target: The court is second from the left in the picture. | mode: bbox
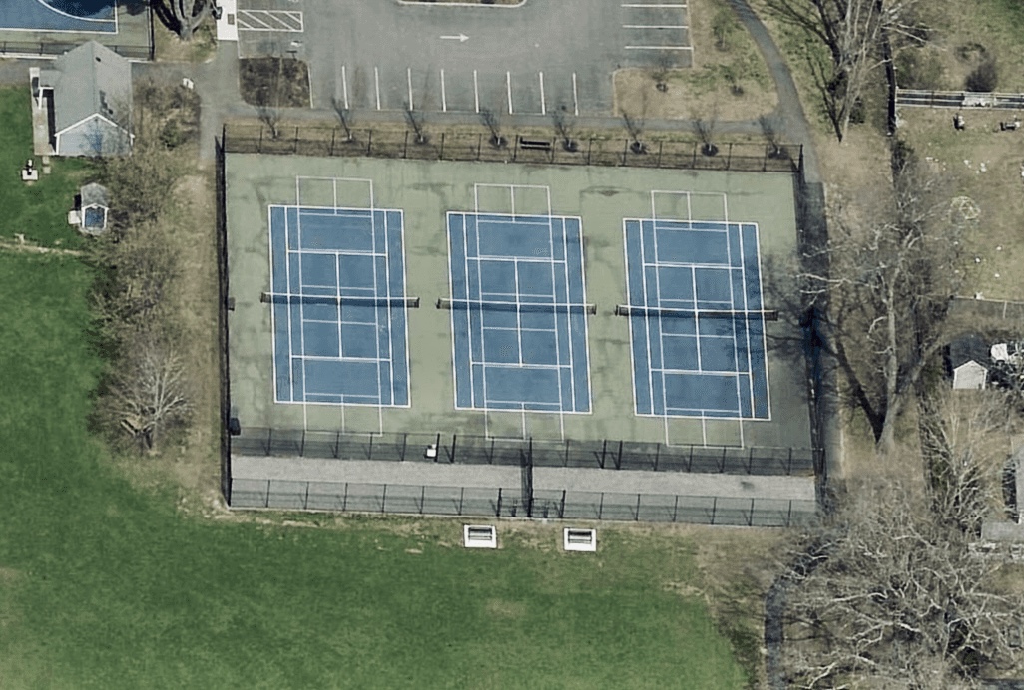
[269,177,411,437]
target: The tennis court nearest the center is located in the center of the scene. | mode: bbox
[447,184,592,443]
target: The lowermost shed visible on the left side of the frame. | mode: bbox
[82,184,110,234]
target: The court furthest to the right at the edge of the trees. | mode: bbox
[624,190,771,450]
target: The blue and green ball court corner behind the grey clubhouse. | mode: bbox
[0,0,152,60]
